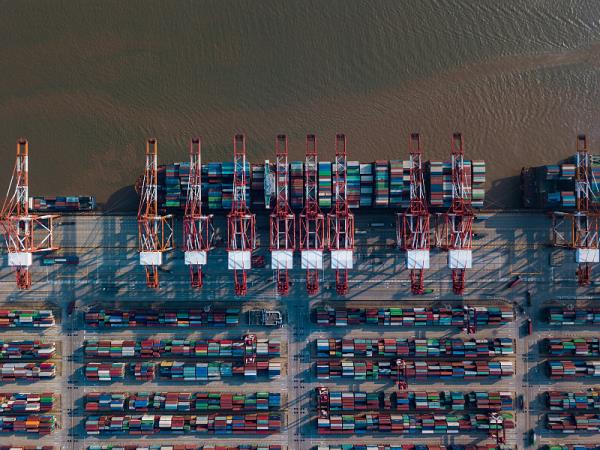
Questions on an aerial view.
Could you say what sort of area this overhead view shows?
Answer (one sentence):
The area seen from above is a port.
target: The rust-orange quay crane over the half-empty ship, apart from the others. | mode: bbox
[538,138,600,291]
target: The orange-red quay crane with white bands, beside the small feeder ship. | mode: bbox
[0,138,66,291]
